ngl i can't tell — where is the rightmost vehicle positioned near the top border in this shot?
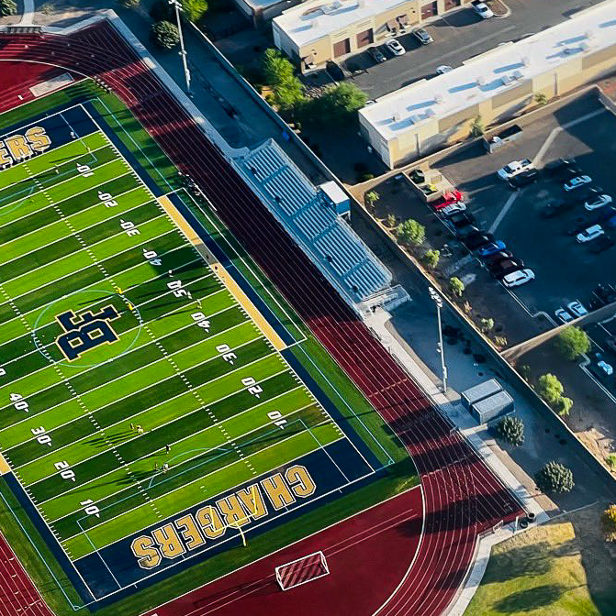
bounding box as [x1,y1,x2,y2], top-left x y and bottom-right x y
[471,0,493,21]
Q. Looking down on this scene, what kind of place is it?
sports ground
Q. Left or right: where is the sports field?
left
